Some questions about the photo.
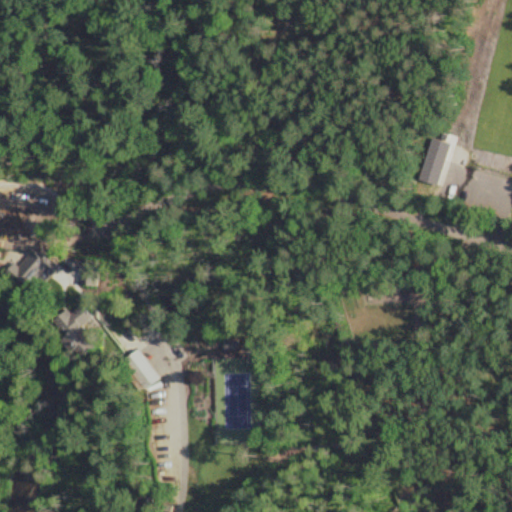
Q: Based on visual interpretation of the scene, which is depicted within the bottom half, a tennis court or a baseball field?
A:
tennis court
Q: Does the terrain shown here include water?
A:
No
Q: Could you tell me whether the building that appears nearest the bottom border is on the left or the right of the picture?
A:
left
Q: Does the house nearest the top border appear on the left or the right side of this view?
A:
right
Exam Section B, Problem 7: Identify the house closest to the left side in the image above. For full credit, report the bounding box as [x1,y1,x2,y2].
[10,250,48,284]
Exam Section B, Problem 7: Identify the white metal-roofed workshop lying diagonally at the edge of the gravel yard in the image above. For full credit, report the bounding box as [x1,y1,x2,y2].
[125,349,160,388]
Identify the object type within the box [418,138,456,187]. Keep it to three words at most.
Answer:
house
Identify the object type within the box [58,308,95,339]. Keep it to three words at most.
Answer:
house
